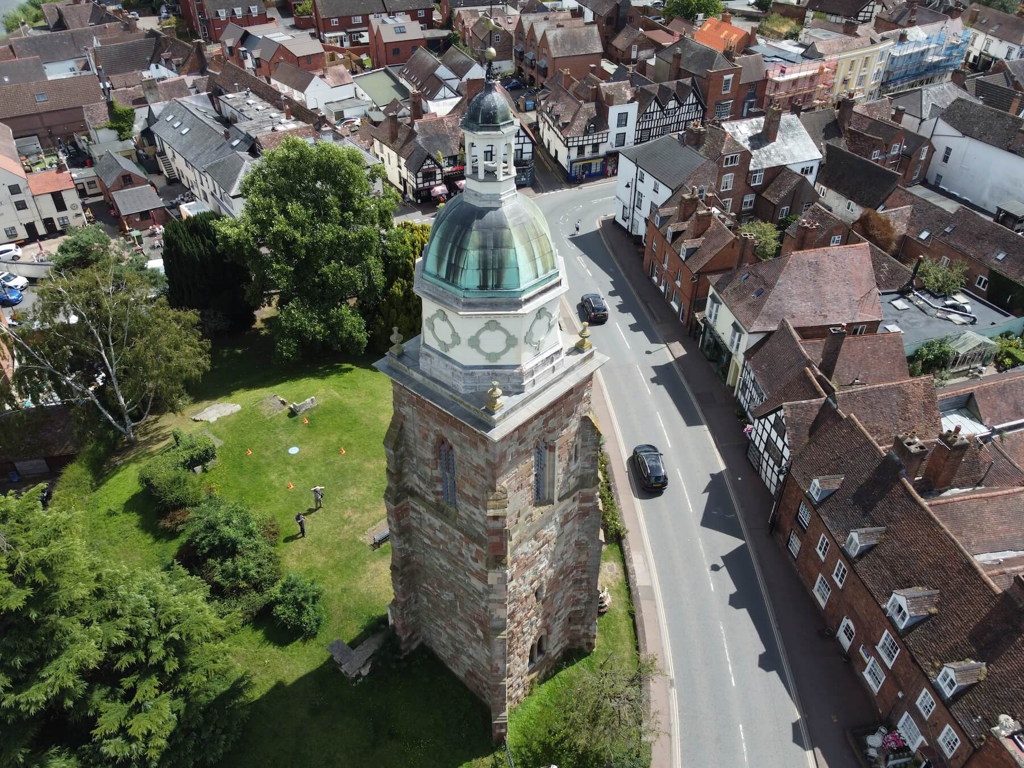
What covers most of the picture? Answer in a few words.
buildings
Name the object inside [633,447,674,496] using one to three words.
car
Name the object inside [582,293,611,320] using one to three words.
car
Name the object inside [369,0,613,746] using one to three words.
building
